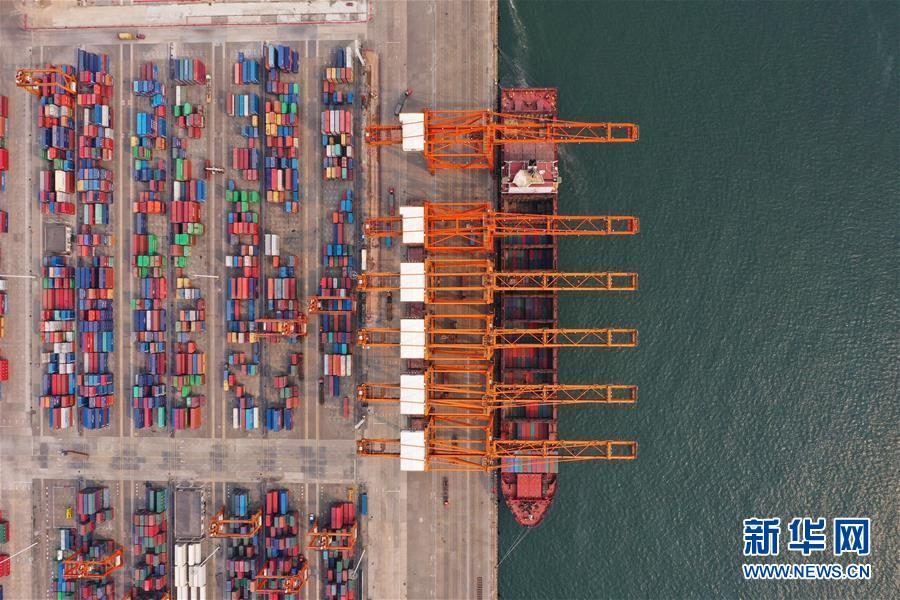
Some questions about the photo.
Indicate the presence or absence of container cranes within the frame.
Yes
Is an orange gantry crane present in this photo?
Yes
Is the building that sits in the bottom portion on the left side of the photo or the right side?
left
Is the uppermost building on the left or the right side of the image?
left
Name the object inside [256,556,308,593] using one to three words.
container crane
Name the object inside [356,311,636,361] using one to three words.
container crane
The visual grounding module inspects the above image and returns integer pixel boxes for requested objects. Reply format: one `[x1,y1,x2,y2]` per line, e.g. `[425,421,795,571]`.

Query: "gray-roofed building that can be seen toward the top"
[45,224,71,253]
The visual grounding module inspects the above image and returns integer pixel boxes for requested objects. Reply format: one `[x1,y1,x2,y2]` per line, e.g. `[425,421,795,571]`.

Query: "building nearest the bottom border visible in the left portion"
[174,483,207,538]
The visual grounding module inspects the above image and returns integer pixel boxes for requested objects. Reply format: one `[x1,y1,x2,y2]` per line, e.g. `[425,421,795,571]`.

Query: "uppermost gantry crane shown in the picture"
[17,69,79,101]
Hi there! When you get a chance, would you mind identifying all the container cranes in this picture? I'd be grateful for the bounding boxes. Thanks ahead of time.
[256,556,308,593]
[356,410,635,474]
[364,109,638,174]
[356,258,636,307]
[256,314,308,339]
[17,69,79,101]
[356,361,636,418]
[364,201,638,256]
[60,543,124,579]
[308,293,358,317]
[308,516,358,551]
[209,505,266,539]
[356,311,636,361]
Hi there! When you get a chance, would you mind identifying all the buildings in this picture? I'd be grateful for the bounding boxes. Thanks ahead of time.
[174,483,207,538]
[45,224,71,253]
